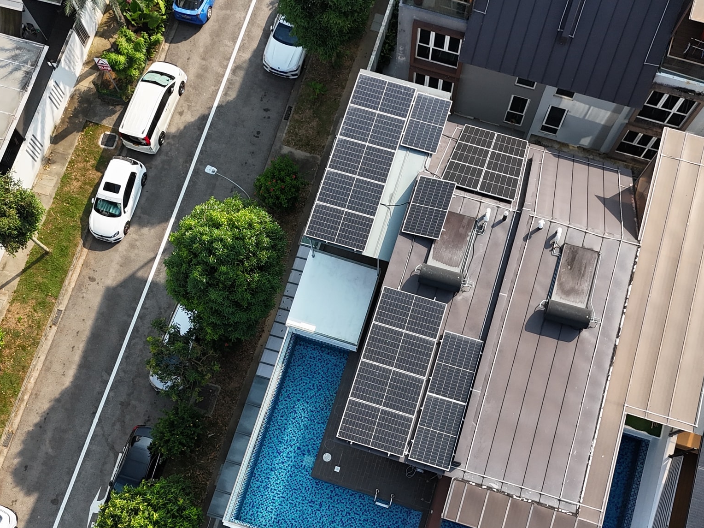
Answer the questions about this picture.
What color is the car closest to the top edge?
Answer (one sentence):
From above, the car closest to the top edge appears blue.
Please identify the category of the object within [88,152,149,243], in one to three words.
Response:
car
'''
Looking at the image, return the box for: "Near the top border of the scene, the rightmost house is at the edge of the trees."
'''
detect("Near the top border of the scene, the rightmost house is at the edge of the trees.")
[394,0,704,181]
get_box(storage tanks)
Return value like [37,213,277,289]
[545,293,595,323]
[418,259,463,288]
